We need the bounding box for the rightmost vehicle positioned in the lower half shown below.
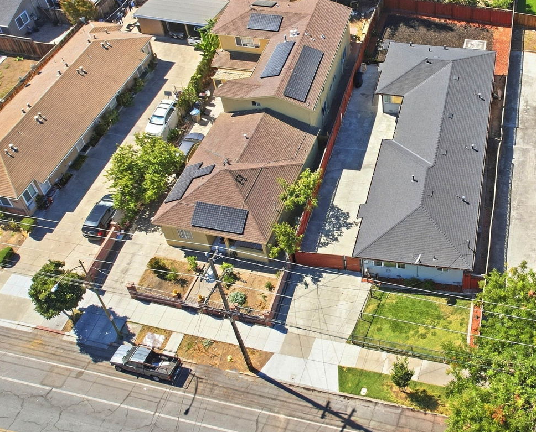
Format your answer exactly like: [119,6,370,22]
[109,340,185,385]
